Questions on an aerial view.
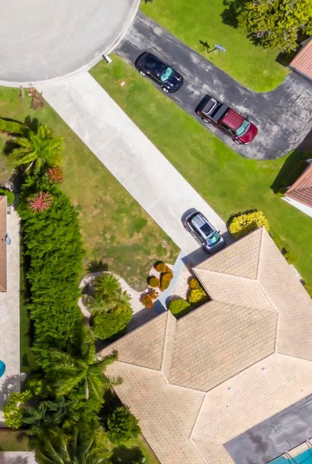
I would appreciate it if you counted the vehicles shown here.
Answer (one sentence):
In total, 3 vehicles can be seen.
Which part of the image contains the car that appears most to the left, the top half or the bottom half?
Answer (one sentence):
It is in the top half that the car that appears most to the left appears.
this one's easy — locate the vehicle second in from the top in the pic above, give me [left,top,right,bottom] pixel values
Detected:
[196,96,254,142]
